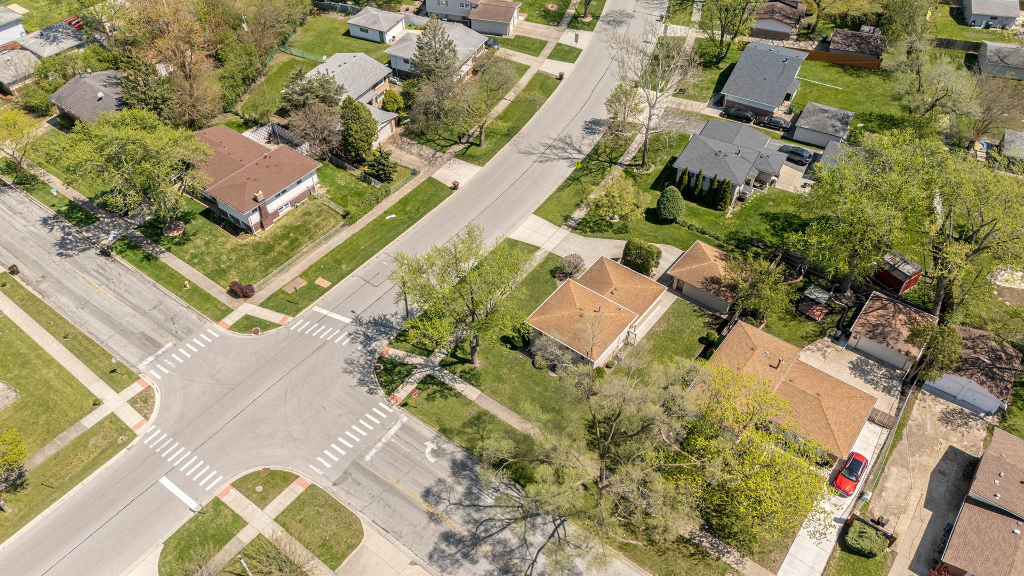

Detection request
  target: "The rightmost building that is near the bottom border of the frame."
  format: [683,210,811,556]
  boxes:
[938,423,1024,576]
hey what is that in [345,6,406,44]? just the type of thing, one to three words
building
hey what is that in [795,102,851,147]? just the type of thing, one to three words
building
